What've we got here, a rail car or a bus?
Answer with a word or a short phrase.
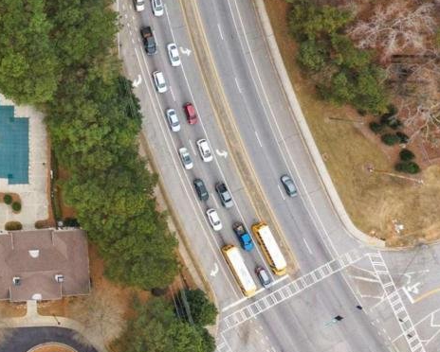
bus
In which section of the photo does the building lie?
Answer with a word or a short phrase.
bottom left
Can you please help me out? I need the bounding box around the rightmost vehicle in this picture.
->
[279,173,297,198]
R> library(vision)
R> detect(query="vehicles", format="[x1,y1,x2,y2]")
[166,42,181,67]
[213,180,233,209]
[232,221,252,250]
[253,264,271,289]
[249,220,288,275]
[279,173,297,198]
[132,0,144,12]
[164,108,180,132]
[150,0,163,17]
[196,138,211,162]
[181,101,198,124]
[219,242,257,298]
[206,208,221,231]
[151,69,167,93]
[139,26,157,54]
[178,145,193,170]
